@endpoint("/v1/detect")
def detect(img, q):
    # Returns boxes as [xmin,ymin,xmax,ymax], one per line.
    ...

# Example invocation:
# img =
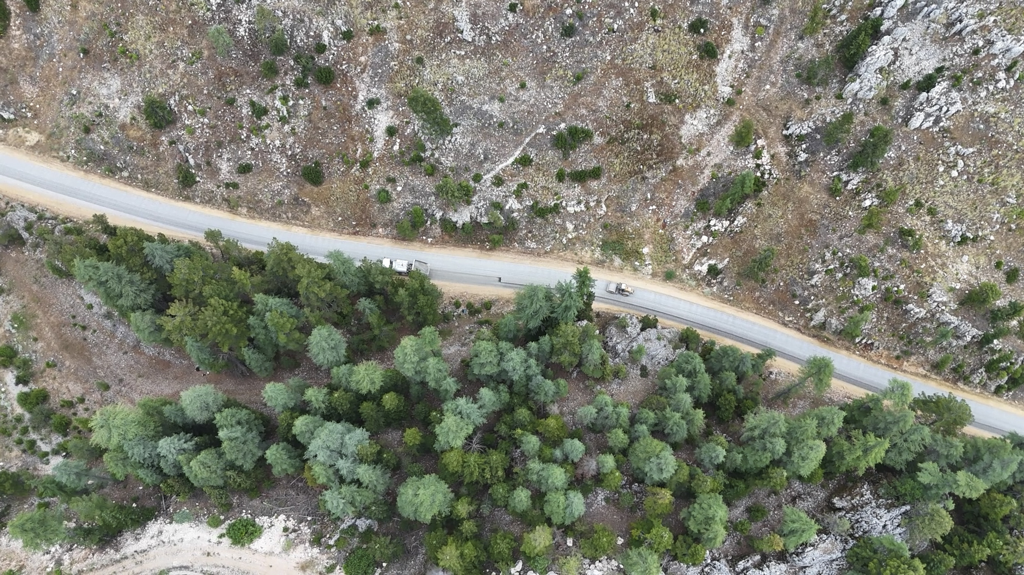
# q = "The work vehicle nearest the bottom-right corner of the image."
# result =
[605,280,636,299]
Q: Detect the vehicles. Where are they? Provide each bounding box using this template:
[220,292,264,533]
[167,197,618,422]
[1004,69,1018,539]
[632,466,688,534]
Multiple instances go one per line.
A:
[605,280,636,299]
[380,257,431,280]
